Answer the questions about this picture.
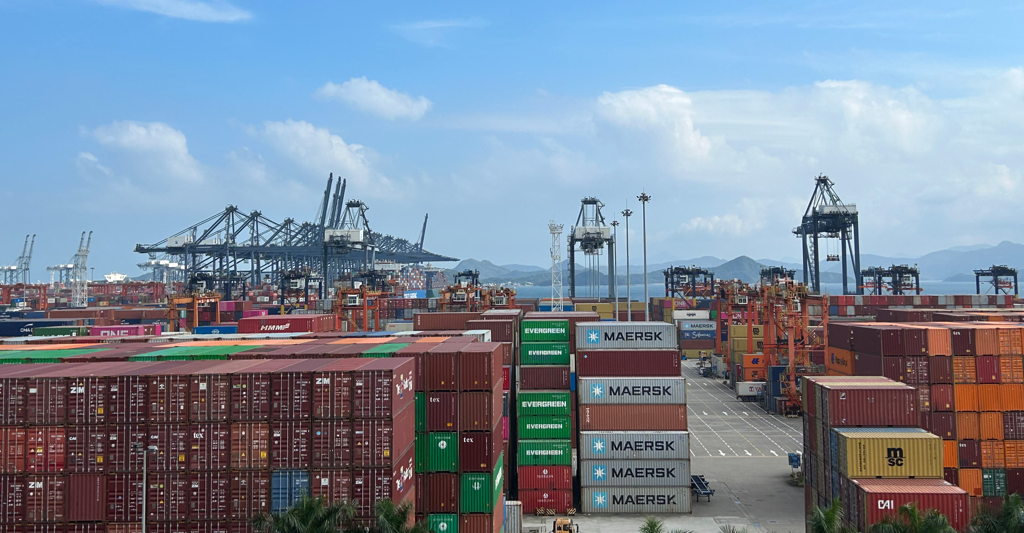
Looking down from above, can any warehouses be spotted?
No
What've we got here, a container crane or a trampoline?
container crane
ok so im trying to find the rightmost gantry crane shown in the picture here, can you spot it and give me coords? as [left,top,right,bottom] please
[964,263,1022,295]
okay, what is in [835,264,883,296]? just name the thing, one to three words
container crane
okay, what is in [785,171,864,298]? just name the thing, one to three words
container crane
